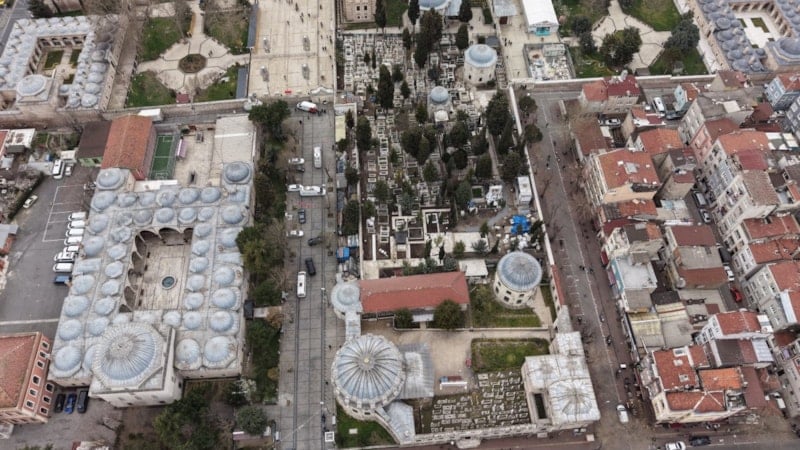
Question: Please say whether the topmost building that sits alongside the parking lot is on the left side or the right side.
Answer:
left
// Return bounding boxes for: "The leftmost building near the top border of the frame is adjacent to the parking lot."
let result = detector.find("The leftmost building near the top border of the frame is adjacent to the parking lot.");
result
[0,14,133,130]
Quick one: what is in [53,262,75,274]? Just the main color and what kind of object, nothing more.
white vehicle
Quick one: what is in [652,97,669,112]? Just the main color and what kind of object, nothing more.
white vehicle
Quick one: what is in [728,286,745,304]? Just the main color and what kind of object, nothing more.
red car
